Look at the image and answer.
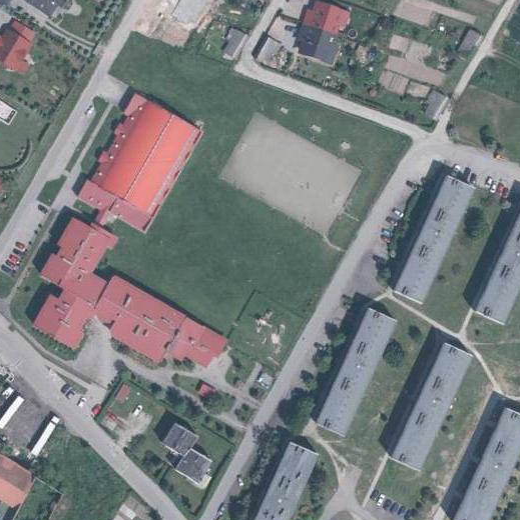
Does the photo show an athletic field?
Yes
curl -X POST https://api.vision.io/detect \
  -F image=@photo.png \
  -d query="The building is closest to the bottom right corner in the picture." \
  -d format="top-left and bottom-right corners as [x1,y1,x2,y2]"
[452,409,520,520]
